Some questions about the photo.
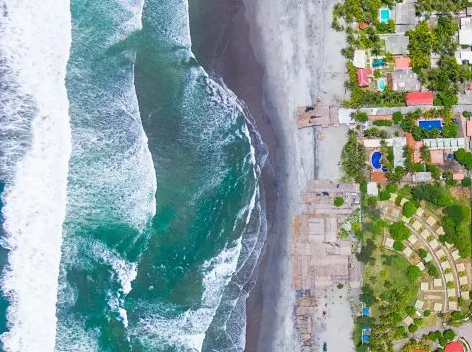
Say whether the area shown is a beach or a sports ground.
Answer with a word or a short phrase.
beach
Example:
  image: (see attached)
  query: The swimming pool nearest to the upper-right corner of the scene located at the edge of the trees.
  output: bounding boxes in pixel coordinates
[380,7,392,24]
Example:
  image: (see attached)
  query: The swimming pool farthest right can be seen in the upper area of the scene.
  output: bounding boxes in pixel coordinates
[418,119,443,131]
